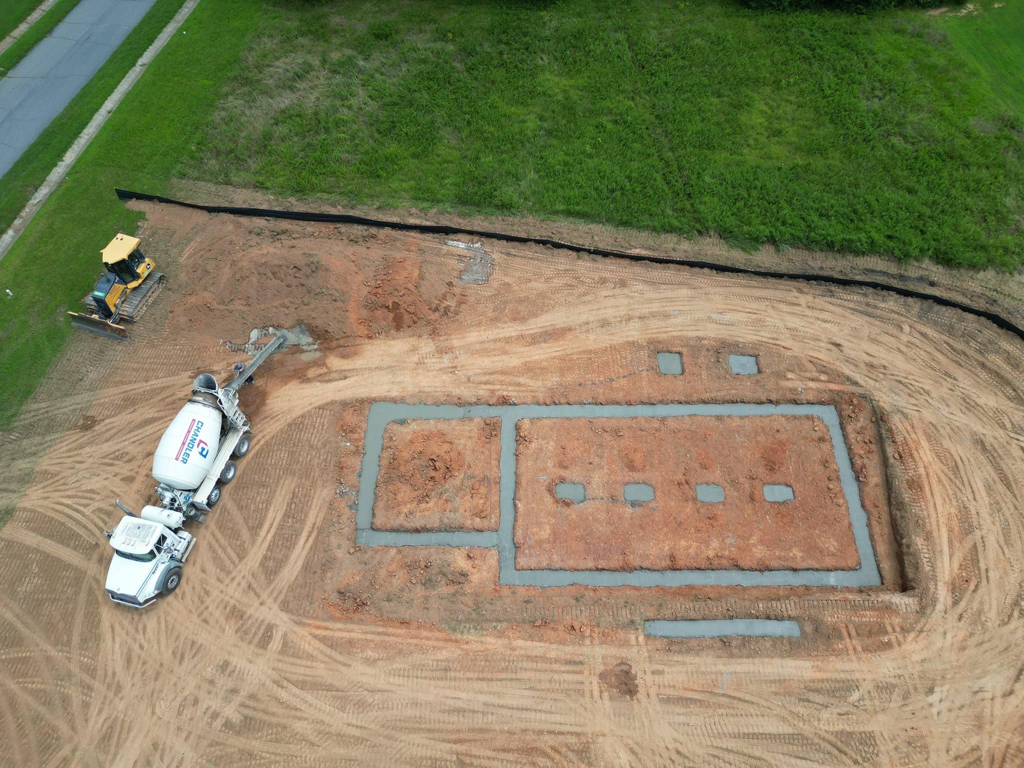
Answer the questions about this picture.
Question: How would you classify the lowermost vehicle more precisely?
truck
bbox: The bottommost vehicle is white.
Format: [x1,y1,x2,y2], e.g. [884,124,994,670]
[110,337,282,608]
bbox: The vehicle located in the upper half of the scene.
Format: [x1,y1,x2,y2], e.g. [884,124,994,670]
[68,232,170,342]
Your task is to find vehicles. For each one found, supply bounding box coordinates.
[110,337,282,608]
[68,232,170,342]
